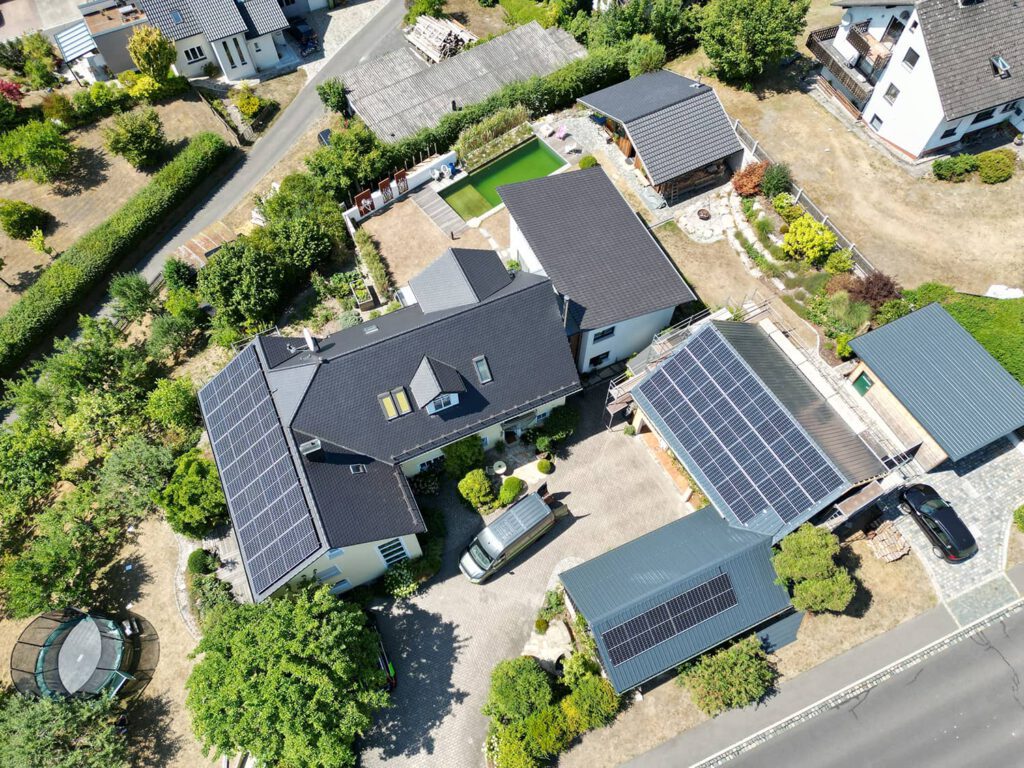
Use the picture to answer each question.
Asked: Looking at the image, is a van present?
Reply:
Yes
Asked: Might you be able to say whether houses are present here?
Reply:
Yes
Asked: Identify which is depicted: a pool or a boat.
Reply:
pool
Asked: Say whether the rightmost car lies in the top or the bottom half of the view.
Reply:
bottom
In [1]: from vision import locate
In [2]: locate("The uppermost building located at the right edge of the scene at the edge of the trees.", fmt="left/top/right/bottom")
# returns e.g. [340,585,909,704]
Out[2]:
[810,0,1024,160]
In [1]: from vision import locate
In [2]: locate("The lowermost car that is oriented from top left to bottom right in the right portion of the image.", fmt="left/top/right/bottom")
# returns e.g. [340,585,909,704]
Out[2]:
[902,482,981,563]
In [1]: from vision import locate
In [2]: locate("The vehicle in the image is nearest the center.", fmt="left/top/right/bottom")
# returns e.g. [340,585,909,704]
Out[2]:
[458,477,573,590]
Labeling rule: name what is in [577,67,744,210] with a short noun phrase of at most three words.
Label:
barn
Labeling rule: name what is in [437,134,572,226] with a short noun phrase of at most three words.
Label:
swimming pool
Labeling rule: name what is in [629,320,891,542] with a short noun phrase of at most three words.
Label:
barn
